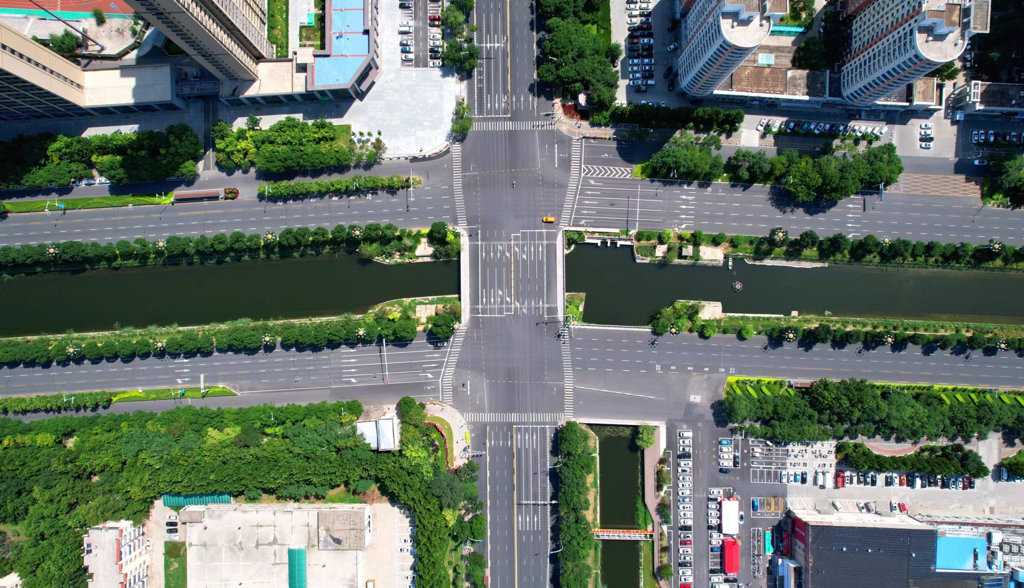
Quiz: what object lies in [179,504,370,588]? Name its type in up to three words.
building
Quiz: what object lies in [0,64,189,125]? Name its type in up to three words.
building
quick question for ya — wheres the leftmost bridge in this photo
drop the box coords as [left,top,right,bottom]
[460,227,566,329]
